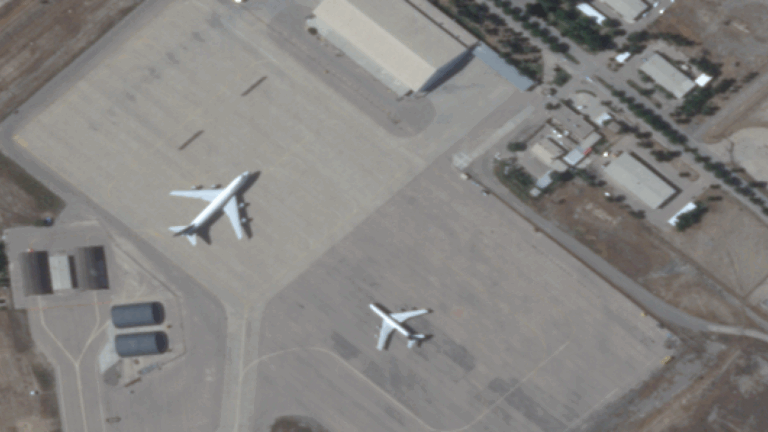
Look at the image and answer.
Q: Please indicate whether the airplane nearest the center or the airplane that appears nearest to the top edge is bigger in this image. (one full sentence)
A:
Compared with the airplane nearest the center, the airplane that appears nearest to the top edge is the bigger one.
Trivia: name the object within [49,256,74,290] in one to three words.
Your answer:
building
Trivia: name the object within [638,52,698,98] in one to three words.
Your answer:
building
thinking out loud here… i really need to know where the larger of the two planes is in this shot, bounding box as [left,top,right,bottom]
[169,171,249,246]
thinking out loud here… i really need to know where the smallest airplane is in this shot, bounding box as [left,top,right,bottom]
[370,304,428,350]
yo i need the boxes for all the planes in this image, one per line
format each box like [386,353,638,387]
[169,171,249,246]
[370,304,428,350]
